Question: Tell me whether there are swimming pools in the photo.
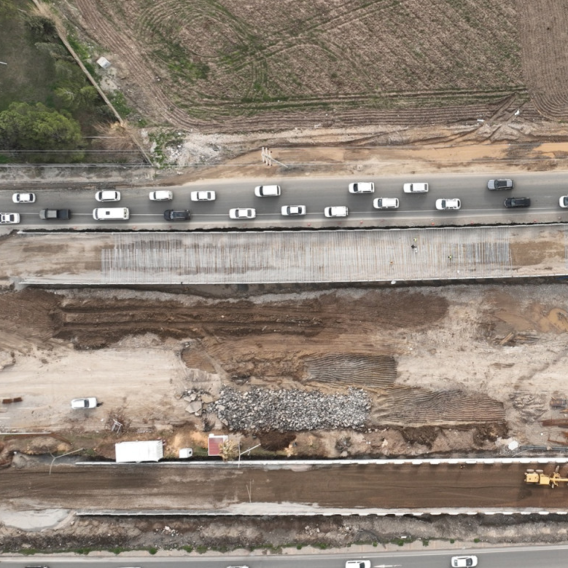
No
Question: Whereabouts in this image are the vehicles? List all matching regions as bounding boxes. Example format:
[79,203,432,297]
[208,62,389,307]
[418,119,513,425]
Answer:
[374,198,400,209]
[41,207,73,220]
[504,196,530,208]
[150,189,174,201]
[281,205,306,216]
[403,181,428,192]
[191,189,217,201]
[69,397,105,410]
[93,206,130,220]
[487,178,513,190]
[255,184,281,197]
[525,467,568,489]
[97,190,123,201]
[345,559,371,568]
[324,206,348,217]
[230,207,257,220]
[436,197,461,209]
[0,212,22,223]
[164,207,191,220]
[14,191,38,203]
[451,554,478,568]
[349,181,374,194]
[559,196,568,207]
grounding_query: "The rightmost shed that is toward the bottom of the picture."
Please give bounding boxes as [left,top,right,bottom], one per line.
[208,434,231,455]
